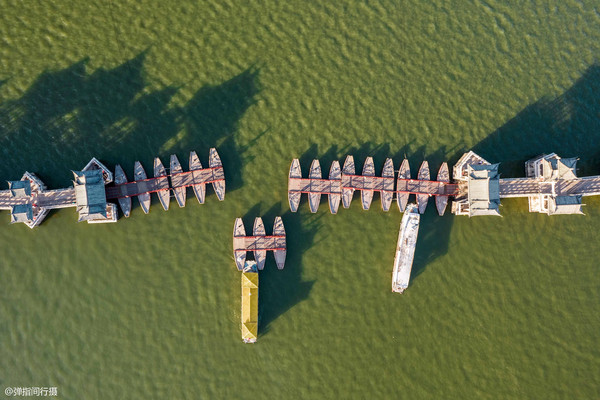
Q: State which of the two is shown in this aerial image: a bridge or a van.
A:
bridge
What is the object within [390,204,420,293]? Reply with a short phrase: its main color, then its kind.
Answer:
white boat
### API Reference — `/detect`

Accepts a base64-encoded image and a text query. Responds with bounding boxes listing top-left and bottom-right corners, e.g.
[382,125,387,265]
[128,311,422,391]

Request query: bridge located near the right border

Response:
[448,151,600,215]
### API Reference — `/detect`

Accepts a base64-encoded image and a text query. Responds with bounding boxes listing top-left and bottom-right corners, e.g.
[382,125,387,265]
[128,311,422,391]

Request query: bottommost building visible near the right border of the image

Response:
[544,193,587,216]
